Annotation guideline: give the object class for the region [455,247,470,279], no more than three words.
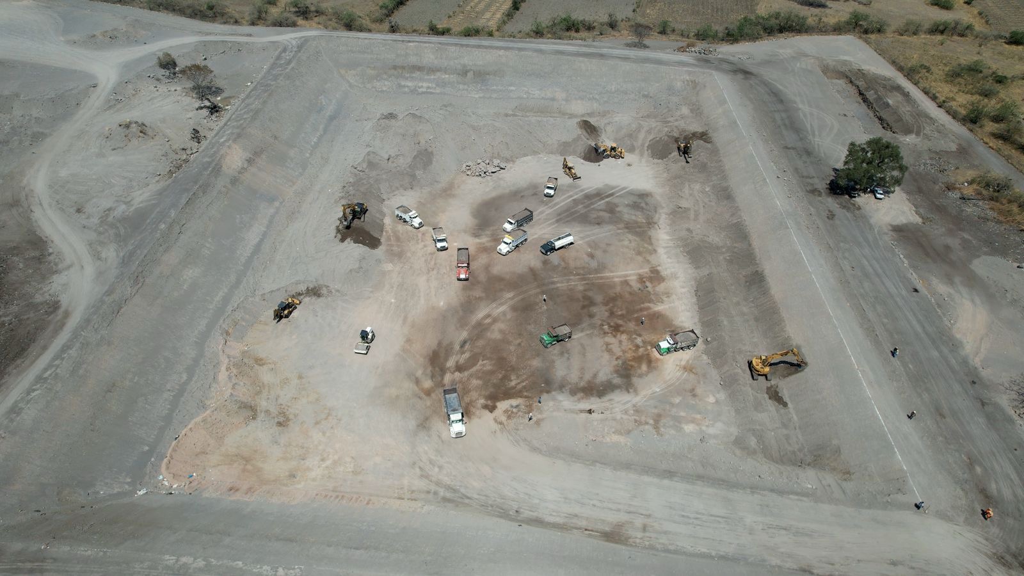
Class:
vehicle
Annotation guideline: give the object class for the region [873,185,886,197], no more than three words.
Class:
vehicle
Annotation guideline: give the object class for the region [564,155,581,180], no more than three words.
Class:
work vehicle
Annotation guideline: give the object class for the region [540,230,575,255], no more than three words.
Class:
truck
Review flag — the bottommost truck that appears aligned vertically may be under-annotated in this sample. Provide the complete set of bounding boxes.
[443,385,465,438]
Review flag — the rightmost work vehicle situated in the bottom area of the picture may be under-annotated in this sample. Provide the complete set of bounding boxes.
[751,348,807,382]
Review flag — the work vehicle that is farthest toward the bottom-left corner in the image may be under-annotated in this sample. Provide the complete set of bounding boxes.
[271,295,306,319]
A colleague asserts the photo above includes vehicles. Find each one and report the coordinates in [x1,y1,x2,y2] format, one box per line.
[564,155,581,180]
[455,247,470,279]
[677,139,691,158]
[656,325,702,355]
[540,230,575,255]
[751,348,807,382]
[393,201,423,227]
[431,225,448,250]
[336,204,370,225]
[538,319,574,347]
[544,175,559,196]
[443,385,465,438]
[352,332,376,355]
[598,143,627,158]
[271,295,306,319]
[873,185,886,197]
[497,226,528,254]
[502,206,535,232]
